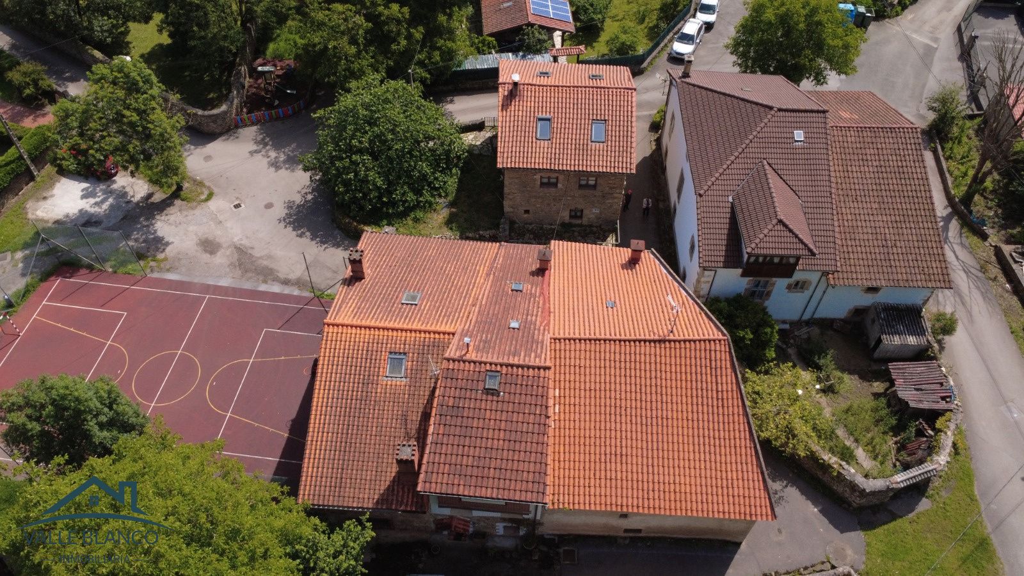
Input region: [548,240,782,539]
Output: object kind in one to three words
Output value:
house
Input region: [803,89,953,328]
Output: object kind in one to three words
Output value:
house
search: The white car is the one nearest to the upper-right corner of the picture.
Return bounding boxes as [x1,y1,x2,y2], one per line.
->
[696,0,725,28]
